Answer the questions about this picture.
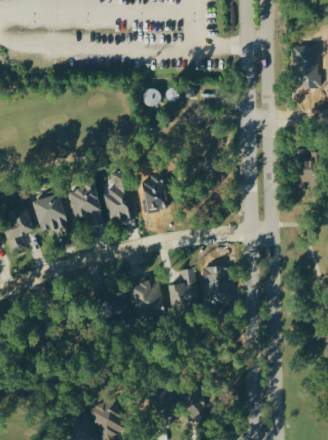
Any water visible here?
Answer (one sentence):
No, no water is visible.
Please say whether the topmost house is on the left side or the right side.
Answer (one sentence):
The topmost house appears in the right half of the scene.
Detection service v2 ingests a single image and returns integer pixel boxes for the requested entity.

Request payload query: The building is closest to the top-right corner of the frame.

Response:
[292,42,322,92]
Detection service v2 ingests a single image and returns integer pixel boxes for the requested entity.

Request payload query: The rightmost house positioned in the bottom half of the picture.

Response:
[202,268,230,307]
